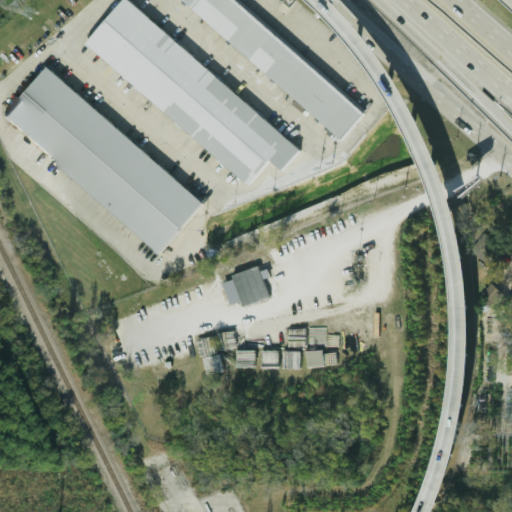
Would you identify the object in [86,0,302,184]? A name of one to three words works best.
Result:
building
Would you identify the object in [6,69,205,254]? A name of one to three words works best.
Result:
building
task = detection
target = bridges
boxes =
[304,0,466,512]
